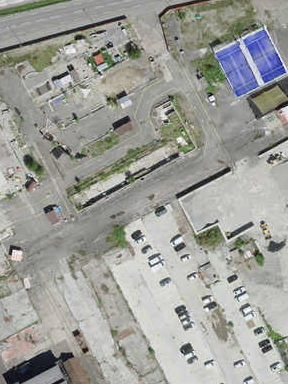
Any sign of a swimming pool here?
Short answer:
No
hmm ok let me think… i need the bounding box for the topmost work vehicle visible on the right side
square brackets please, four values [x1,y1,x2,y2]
[268,152,286,166]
